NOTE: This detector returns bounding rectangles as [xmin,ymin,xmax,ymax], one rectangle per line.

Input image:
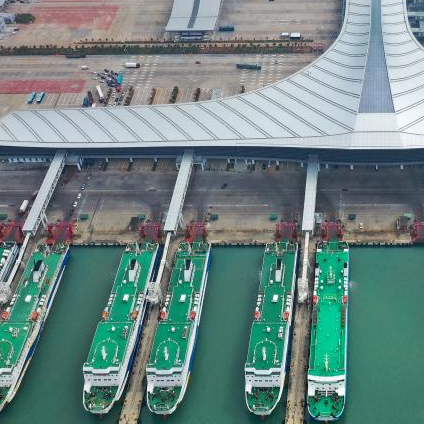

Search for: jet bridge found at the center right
[296,160,332,307]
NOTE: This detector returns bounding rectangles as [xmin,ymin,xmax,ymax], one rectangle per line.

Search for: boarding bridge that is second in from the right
[147,155,207,307]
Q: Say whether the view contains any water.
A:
Yes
